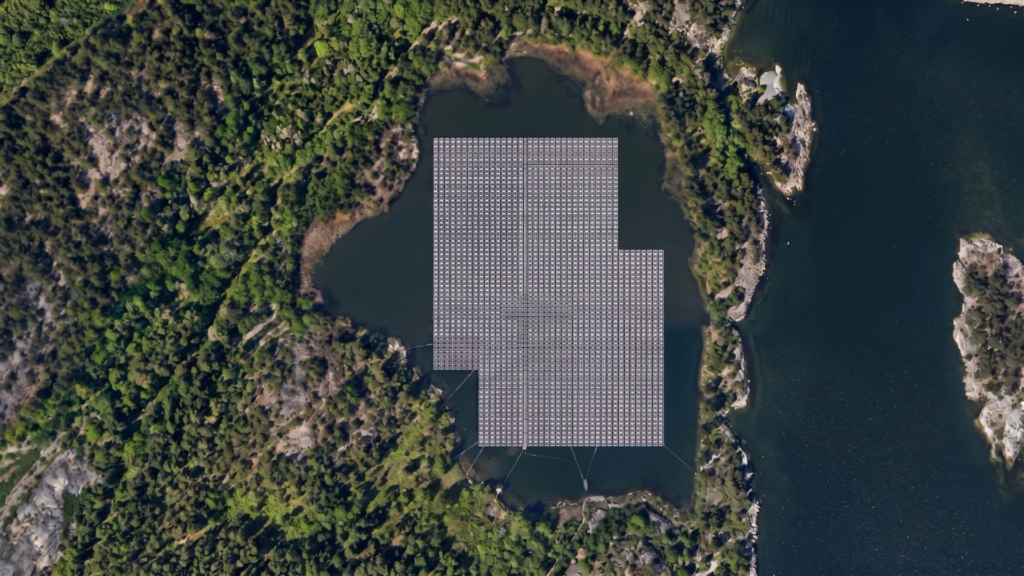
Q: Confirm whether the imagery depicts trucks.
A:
No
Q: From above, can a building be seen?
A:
No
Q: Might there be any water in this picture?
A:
Yes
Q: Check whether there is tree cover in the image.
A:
Yes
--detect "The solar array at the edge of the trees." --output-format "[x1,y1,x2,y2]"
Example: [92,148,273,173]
[434,138,665,452]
